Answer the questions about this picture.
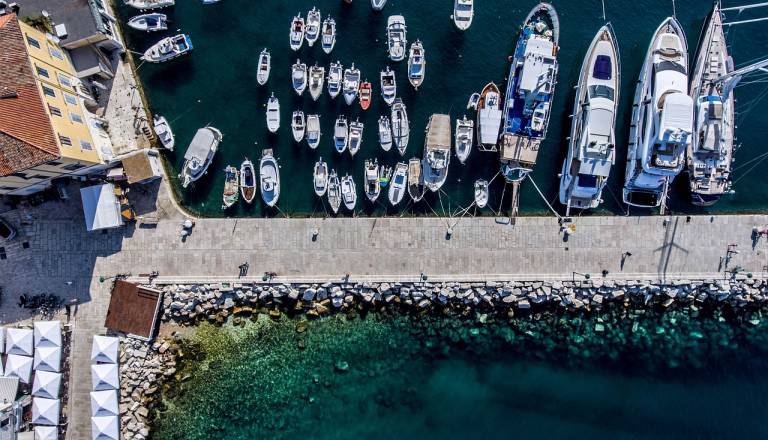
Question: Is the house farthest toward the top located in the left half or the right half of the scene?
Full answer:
You can find the house farthest toward the top on the left side of the picture.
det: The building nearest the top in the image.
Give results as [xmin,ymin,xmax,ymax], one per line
[0,0,122,82]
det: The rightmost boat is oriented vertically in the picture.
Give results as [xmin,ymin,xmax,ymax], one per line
[684,0,768,209]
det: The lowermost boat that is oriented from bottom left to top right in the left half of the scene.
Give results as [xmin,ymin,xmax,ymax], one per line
[178,125,226,188]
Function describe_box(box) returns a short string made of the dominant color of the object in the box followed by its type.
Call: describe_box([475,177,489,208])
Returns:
white boat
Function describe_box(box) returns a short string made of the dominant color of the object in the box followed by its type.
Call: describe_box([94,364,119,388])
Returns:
white umbrella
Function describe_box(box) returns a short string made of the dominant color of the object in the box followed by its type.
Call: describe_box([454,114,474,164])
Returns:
white boat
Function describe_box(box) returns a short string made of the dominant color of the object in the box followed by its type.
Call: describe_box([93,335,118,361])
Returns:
white umbrella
